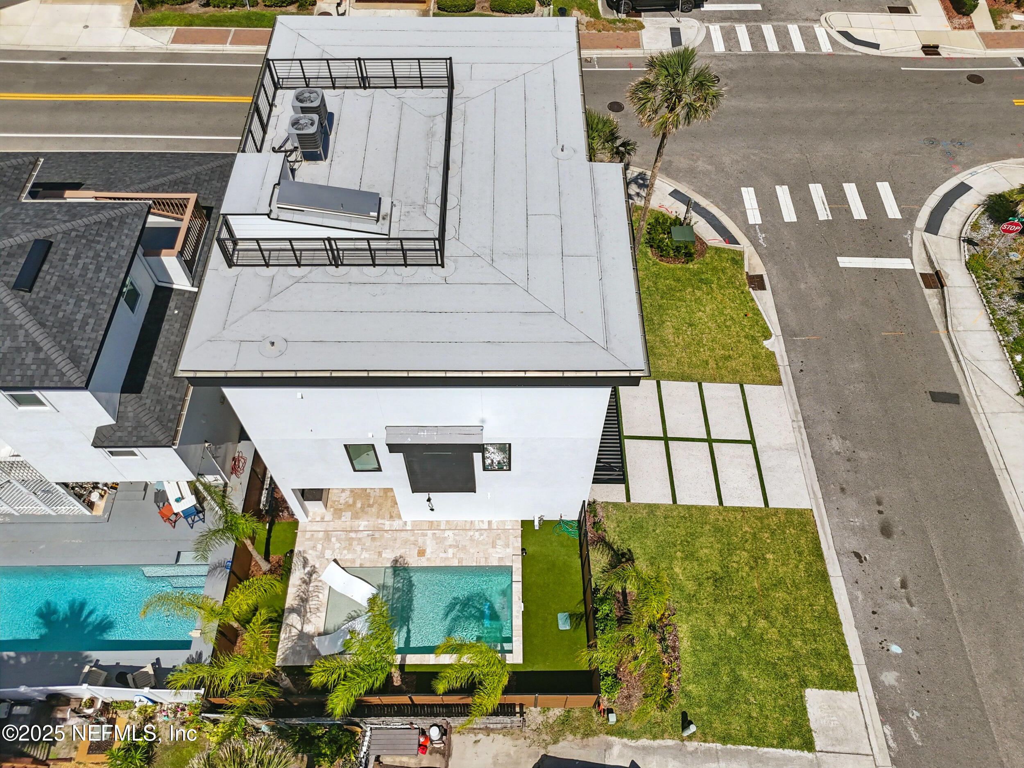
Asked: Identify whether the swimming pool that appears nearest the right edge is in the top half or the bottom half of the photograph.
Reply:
bottom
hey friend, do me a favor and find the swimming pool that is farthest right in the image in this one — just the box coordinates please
[327,566,523,654]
